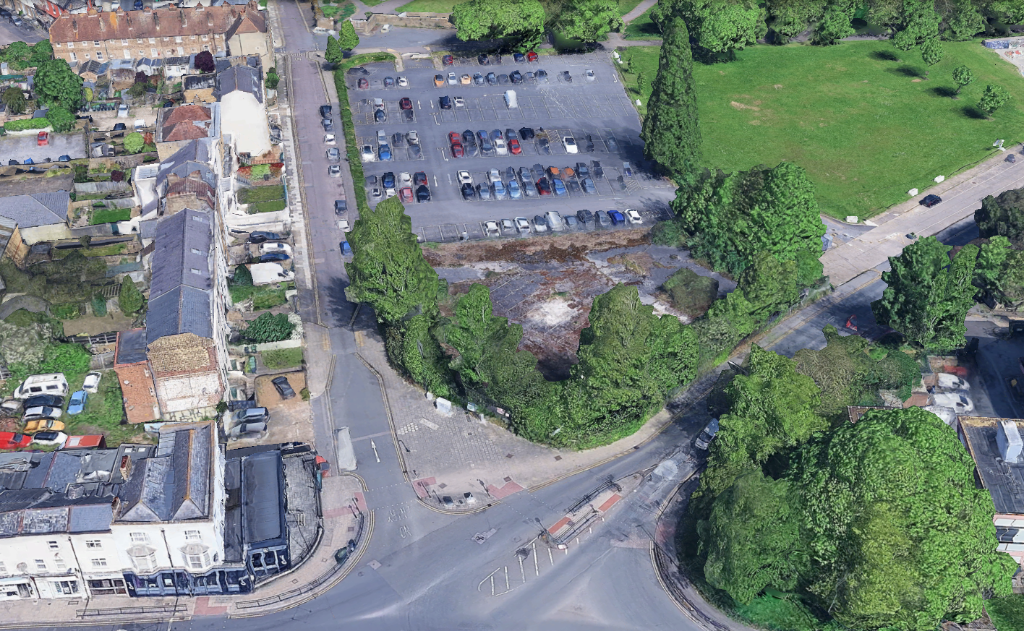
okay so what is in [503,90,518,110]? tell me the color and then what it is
white vehicle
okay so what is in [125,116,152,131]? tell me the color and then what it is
white vehicle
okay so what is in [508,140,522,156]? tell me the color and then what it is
red car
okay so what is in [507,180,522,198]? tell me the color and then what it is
blue car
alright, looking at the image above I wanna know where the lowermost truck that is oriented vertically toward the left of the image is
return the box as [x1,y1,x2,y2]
[332,424,360,475]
